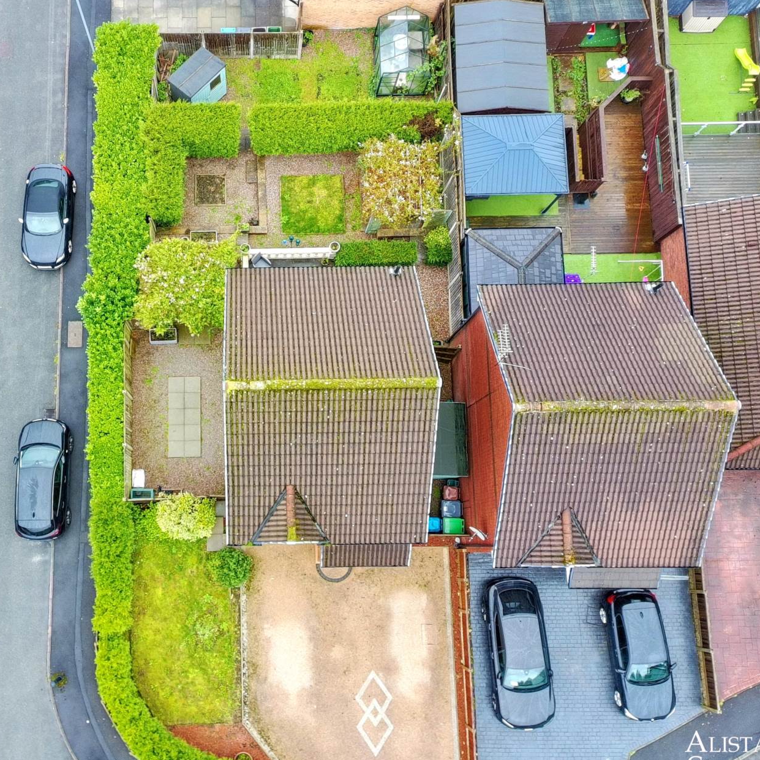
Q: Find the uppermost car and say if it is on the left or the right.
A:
left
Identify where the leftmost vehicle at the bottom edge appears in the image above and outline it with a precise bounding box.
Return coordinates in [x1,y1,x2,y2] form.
[482,576,561,731]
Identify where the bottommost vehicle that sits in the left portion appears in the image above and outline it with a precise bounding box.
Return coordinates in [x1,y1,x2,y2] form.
[7,419,71,538]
